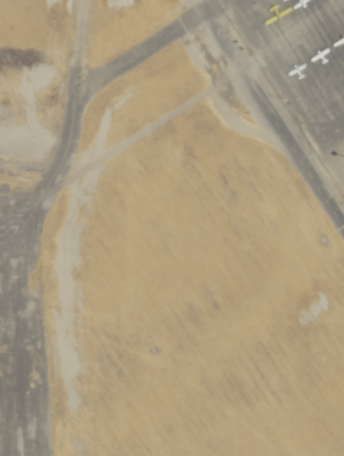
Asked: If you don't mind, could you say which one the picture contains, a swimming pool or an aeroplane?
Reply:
aeroplane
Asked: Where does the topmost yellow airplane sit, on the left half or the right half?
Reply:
right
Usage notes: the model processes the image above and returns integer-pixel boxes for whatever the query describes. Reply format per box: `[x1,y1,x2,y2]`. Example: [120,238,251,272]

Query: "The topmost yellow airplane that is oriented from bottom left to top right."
[264,5,292,25]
